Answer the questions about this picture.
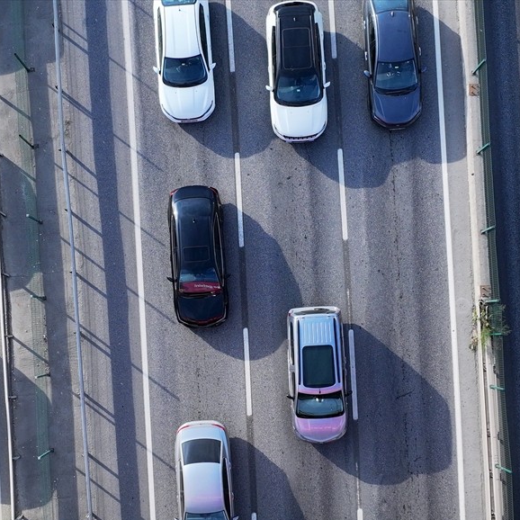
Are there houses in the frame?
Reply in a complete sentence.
No, there is no house in the image.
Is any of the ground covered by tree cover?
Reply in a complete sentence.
No, there is no tree cover in the image.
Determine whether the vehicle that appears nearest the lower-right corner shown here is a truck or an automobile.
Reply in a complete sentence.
The vehicle that appears nearest the lower-right corner in the image is an automobile.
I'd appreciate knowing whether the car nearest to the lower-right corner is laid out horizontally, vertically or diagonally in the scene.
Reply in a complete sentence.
In this picture, the car nearest to the lower-right corner is oriented vertically.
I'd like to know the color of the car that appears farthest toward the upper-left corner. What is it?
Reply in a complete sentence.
From above, the car that appears farthest toward the upper-left corner appears white.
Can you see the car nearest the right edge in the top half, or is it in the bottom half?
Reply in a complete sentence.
Seen from above, the car nearest the right edge lies in the top half of the view.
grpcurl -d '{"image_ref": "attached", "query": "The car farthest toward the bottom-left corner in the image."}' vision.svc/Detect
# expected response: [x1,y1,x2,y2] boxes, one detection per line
[172,420,239,520]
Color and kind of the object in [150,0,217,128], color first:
white car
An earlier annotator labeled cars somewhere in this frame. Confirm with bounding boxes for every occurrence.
[285,306,353,443]
[361,0,428,134]
[150,0,217,128]
[165,186,231,328]
[264,0,332,147]
[172,420,239,520]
